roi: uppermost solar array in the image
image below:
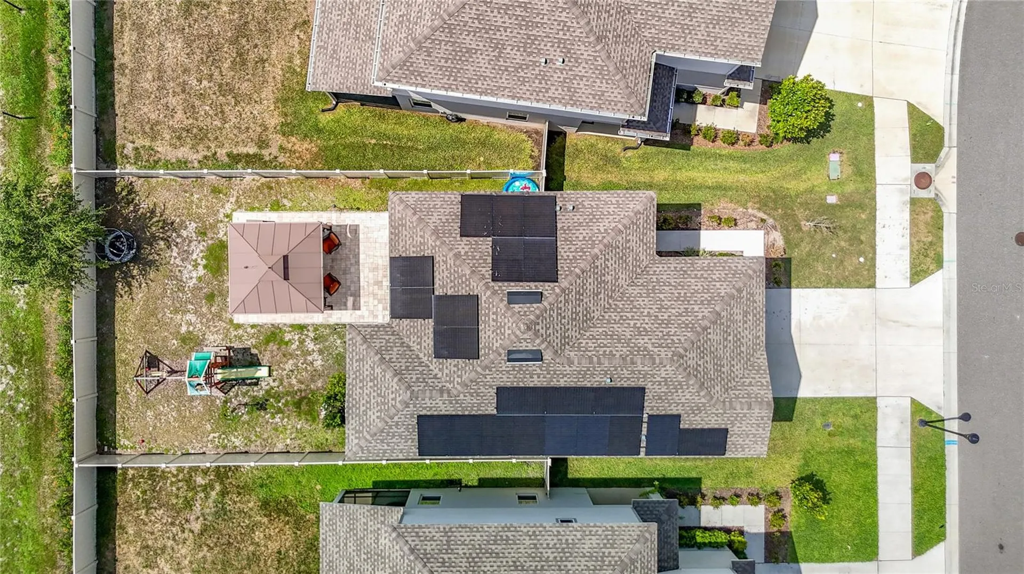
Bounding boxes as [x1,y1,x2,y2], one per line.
[459,195,559,282]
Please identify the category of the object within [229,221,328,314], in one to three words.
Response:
gazebo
